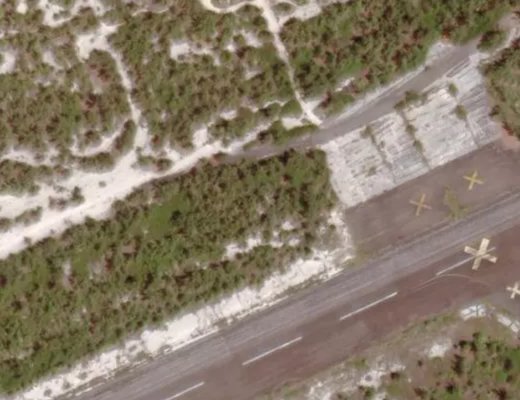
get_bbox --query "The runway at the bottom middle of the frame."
[60,187,520,400]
